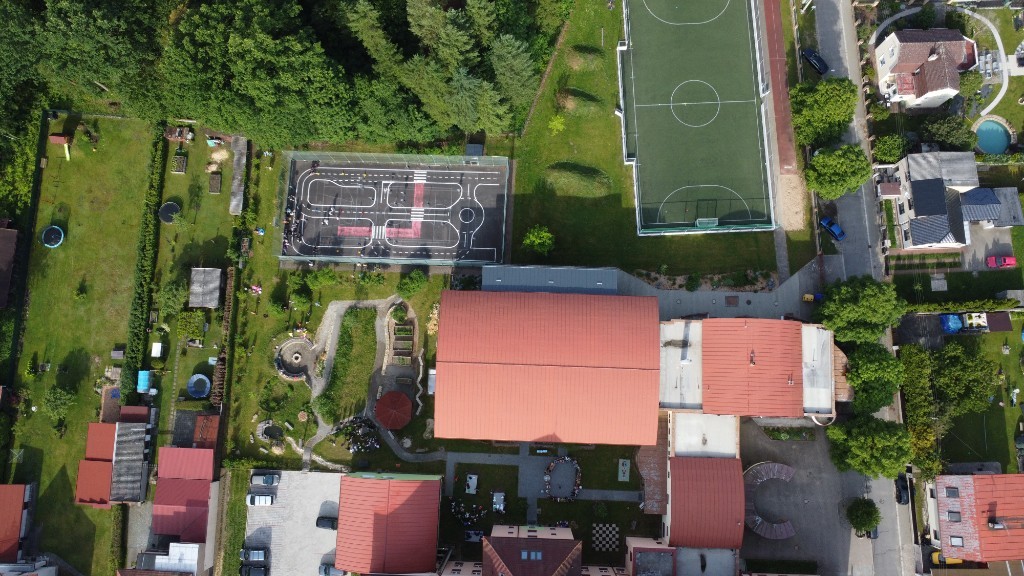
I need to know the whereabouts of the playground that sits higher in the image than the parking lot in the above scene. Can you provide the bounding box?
[282,160,508,266]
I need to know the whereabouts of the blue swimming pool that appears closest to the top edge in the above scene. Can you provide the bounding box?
[971,116,1013,152]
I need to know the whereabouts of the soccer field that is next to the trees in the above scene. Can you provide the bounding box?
[618,0,775,235]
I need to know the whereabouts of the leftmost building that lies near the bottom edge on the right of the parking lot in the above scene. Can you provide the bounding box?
[336,473,442,570]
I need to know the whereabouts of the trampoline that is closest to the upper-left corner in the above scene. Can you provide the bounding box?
[34,223,64,247]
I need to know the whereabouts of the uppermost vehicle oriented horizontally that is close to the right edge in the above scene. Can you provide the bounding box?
[984,254,1017,269]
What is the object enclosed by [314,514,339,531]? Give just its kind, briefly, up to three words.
car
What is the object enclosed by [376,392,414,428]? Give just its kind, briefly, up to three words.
gazebo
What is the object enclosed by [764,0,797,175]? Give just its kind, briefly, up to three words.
running track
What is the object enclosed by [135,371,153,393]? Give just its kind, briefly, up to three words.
greenhouse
